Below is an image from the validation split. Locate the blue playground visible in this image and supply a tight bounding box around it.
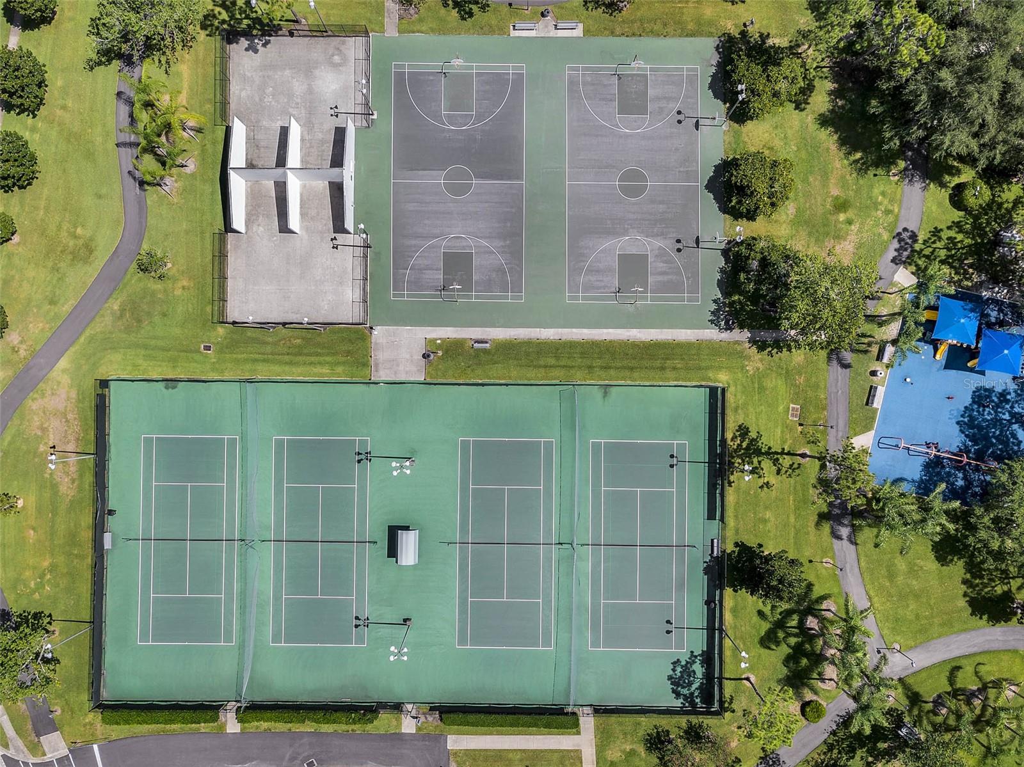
[862,286,1024,515]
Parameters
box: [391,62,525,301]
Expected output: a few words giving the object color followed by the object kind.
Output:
gray basketball court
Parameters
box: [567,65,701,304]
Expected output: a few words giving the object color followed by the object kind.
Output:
gray basketball court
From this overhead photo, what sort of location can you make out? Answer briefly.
sports ground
